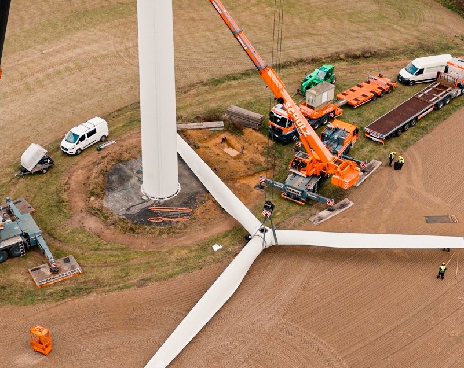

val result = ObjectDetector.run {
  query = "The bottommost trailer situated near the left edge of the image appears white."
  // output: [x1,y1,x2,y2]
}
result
[12,140,58,174]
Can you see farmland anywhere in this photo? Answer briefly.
Yes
